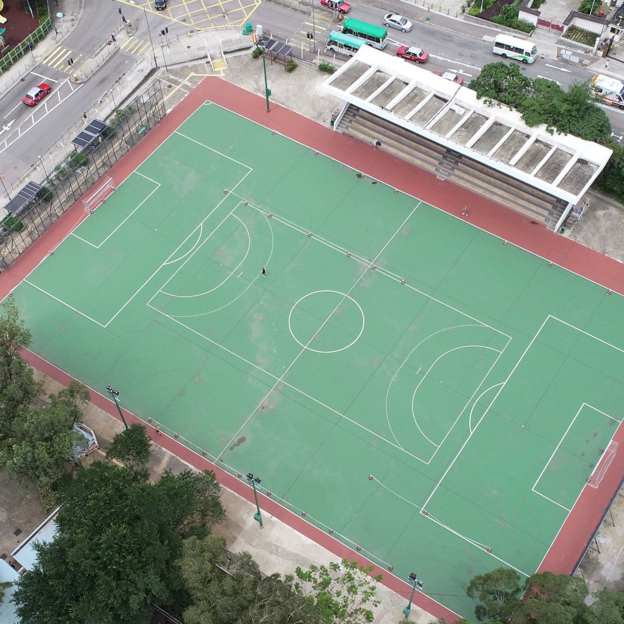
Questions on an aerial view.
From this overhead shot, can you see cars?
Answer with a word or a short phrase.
Yes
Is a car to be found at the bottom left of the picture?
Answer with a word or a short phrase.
No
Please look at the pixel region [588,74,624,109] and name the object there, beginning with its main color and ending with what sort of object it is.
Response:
white van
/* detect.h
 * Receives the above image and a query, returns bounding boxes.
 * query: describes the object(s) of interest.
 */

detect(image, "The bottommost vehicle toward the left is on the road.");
[20,83,55,108]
